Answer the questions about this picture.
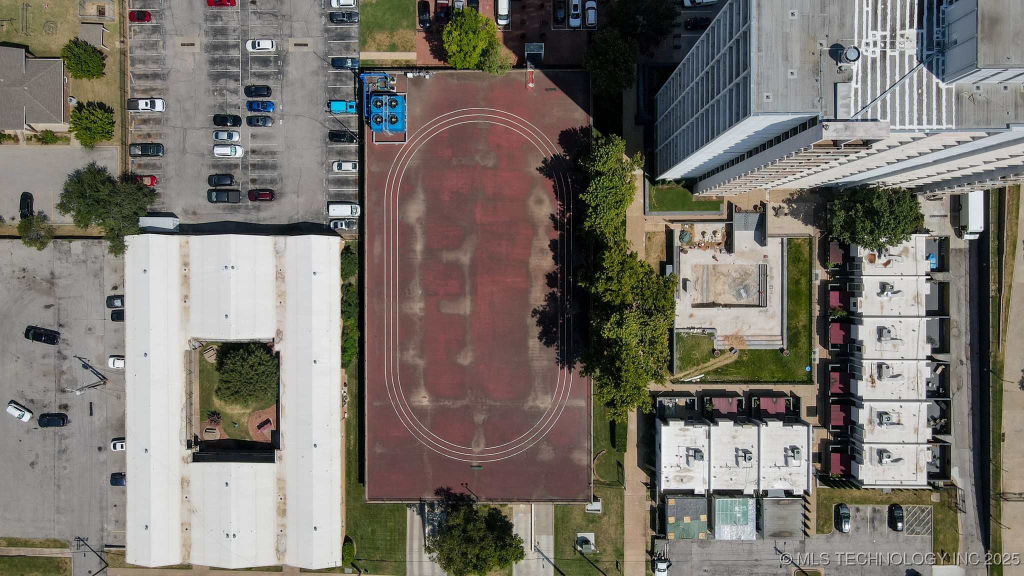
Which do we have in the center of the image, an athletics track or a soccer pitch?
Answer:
athletics track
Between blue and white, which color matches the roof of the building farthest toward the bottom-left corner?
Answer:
white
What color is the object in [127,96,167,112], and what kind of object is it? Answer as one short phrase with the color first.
white vehicle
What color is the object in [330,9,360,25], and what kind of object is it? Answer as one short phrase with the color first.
black car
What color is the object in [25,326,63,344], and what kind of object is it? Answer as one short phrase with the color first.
black vehicle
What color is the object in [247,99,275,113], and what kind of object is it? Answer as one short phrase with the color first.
blue car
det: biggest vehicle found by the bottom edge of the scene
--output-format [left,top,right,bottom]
[654,538,674,575]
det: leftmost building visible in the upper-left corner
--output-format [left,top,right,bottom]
[0,46,72,133]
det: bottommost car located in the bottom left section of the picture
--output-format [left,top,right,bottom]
[112,472,127,486]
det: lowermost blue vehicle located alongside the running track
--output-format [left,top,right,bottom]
[328,100,358,113]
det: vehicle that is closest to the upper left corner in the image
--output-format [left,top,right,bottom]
[130,10,154,23]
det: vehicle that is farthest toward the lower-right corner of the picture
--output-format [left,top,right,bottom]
[890,503,904,530]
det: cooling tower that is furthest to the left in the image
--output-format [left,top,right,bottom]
[360,74,409,145]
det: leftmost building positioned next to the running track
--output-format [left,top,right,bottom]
[124,235,349,566]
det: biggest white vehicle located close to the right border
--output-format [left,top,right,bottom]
[958,190,988,238]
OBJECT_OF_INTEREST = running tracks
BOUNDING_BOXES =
[364,69,592,503]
